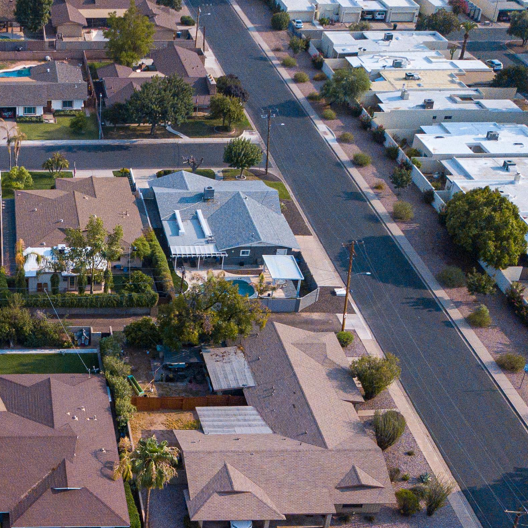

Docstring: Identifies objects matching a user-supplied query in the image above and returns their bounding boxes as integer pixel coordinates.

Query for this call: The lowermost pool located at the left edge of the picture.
[0,66,33,78]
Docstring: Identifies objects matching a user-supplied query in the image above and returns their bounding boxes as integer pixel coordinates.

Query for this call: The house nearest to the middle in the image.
[145,169,304,274]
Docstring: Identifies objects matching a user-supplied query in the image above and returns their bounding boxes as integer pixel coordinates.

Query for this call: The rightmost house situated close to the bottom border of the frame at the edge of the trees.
[170,319,399,528]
